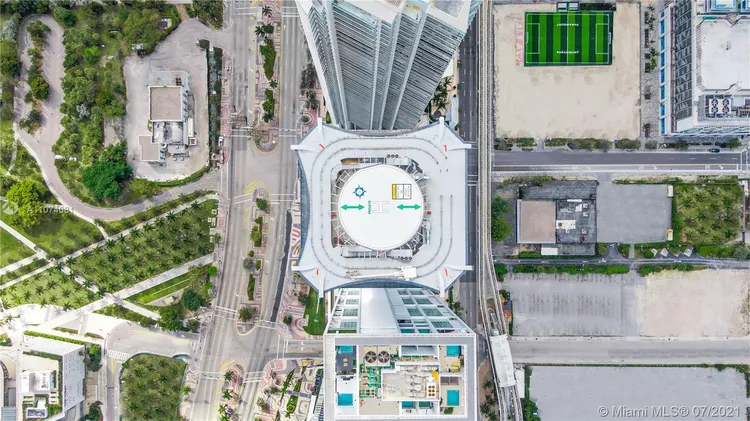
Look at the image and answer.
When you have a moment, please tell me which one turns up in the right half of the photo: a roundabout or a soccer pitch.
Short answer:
soccer pitch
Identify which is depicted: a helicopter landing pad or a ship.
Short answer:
helicopter landing pad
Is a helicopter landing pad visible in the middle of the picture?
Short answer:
Yes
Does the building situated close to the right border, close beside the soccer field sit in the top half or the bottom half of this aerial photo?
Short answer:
top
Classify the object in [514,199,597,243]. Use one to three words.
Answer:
building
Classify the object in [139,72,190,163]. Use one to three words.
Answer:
building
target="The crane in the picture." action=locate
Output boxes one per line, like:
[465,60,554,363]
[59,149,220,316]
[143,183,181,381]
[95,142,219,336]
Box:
[346,267,417,281]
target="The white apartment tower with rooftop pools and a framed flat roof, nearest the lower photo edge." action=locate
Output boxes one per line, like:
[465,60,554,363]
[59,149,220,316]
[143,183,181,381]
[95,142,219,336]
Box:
[324,288,479,421]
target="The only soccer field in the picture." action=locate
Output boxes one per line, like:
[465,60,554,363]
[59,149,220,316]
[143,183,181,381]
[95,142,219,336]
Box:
[524,10,615,66]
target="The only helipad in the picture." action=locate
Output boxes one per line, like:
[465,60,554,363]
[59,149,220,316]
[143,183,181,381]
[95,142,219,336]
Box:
[333,158,428,256]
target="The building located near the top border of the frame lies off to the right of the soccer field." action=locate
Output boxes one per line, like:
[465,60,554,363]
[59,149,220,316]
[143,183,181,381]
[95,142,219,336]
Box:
[656,0,750,140]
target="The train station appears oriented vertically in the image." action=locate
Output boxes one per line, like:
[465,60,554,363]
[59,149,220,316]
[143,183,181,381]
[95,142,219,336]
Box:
[489,306,524,421]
